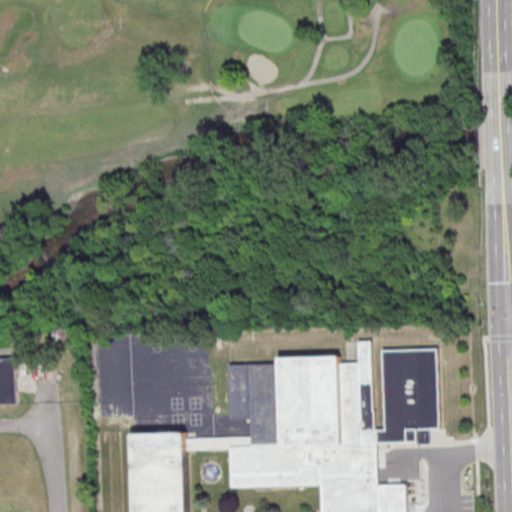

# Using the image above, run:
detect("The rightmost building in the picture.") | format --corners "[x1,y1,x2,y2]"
[371,348,440,442]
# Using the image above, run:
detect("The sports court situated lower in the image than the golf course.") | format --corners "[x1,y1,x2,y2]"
[100,336,250,438]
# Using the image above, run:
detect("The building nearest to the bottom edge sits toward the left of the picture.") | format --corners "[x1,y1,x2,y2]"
[126,432,189,512]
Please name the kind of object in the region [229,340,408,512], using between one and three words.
building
